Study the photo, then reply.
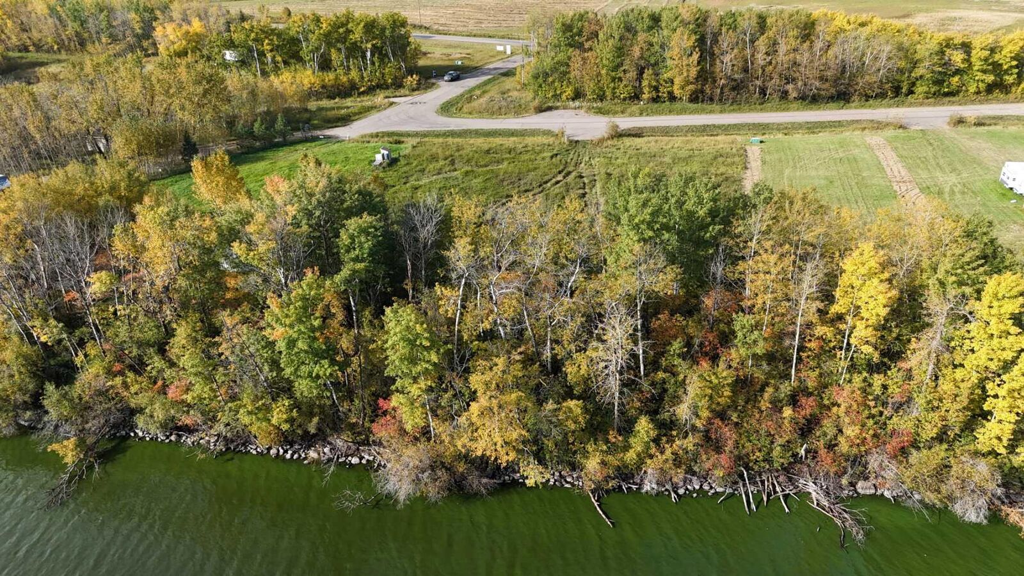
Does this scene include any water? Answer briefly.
Yes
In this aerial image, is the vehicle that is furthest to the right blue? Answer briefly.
No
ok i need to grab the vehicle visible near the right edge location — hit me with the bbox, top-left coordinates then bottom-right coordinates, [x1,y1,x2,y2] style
[1002,164,1024,197]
